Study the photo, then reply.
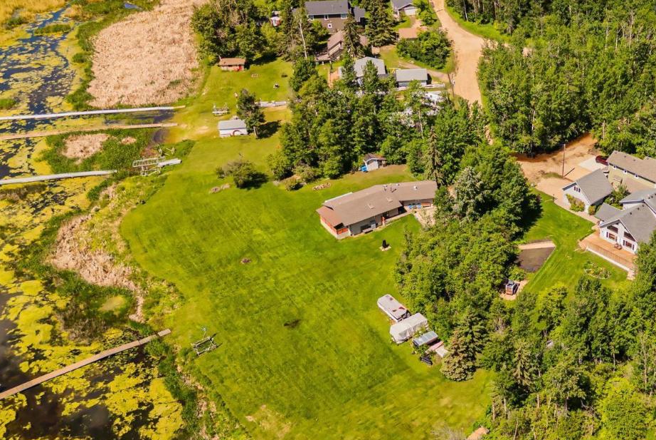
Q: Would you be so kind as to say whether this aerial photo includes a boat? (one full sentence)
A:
Yes, there is a boat in the image.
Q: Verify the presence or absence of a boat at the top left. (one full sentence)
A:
No, no boat is visible at the top left.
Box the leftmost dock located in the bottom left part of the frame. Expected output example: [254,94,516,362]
[0,332,158,399]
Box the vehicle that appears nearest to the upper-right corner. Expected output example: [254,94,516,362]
[594,156,610,168]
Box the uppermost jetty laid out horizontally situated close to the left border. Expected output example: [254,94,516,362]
[0,107,173,121]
